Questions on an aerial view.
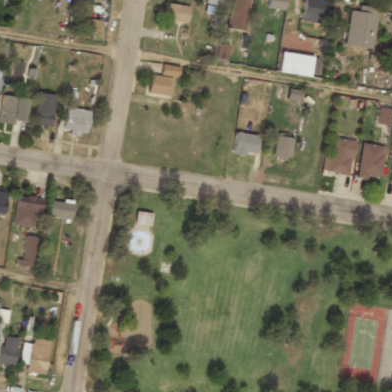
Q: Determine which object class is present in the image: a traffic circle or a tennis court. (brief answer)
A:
tennis court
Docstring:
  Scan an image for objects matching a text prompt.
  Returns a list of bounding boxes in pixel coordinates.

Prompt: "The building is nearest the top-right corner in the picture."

[346,5,380,48]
